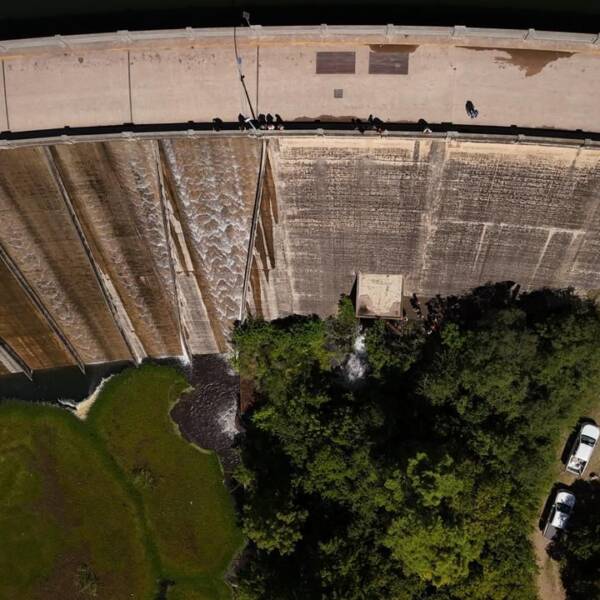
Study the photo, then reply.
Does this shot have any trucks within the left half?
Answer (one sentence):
No, no truck appears within the left half.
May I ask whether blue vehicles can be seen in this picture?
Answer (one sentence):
No, there appears to be no blue vehicle in this shot.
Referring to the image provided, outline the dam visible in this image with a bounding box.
[0,24,600,375]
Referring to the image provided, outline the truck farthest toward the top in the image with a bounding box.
[562,421,598,478]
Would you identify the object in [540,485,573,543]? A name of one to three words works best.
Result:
truck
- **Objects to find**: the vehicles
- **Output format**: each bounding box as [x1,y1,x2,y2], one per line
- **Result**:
[540,485,573,543]
[562,421,598,478]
